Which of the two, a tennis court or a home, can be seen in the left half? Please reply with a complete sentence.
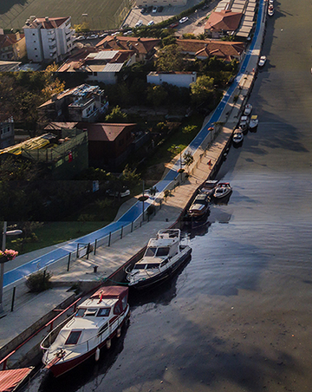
What appears in the left half is a home.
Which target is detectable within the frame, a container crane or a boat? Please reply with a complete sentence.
The image shows a boat.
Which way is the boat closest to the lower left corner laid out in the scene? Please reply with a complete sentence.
In this picture, the boat closest to the lower left corner lies on a diagonal.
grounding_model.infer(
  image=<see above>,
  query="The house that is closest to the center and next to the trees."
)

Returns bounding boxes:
[77,123,136,165]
